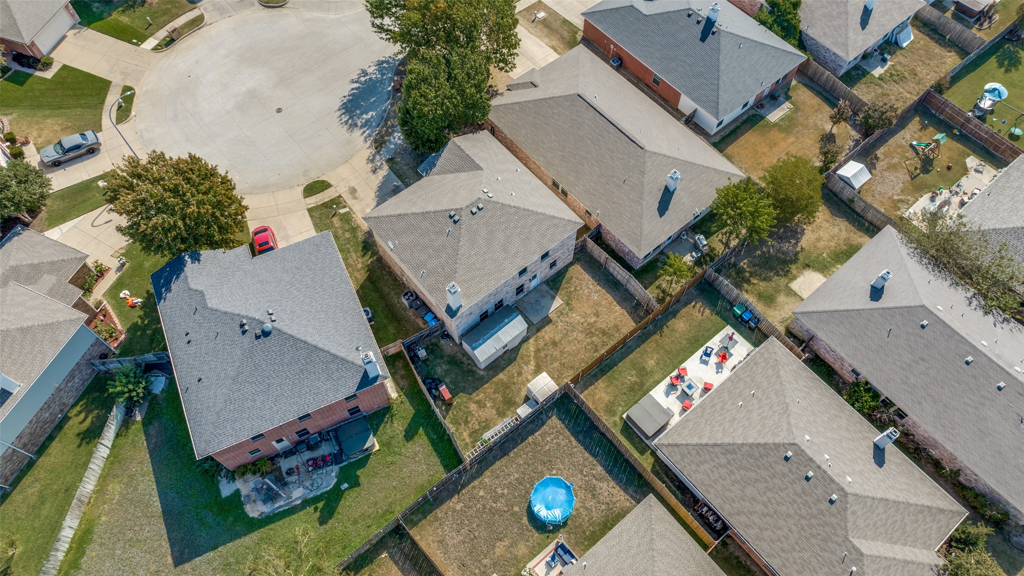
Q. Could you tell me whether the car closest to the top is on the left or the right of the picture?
left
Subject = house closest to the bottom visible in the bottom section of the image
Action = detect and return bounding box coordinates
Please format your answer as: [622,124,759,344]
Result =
[559,493,725,576]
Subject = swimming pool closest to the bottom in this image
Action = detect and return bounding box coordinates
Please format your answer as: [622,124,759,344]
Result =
[529,475,576,525]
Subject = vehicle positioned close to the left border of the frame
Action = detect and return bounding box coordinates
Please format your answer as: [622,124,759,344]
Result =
[37,128,101,167]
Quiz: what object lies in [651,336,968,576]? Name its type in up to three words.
house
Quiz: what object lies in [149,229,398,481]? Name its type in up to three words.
house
